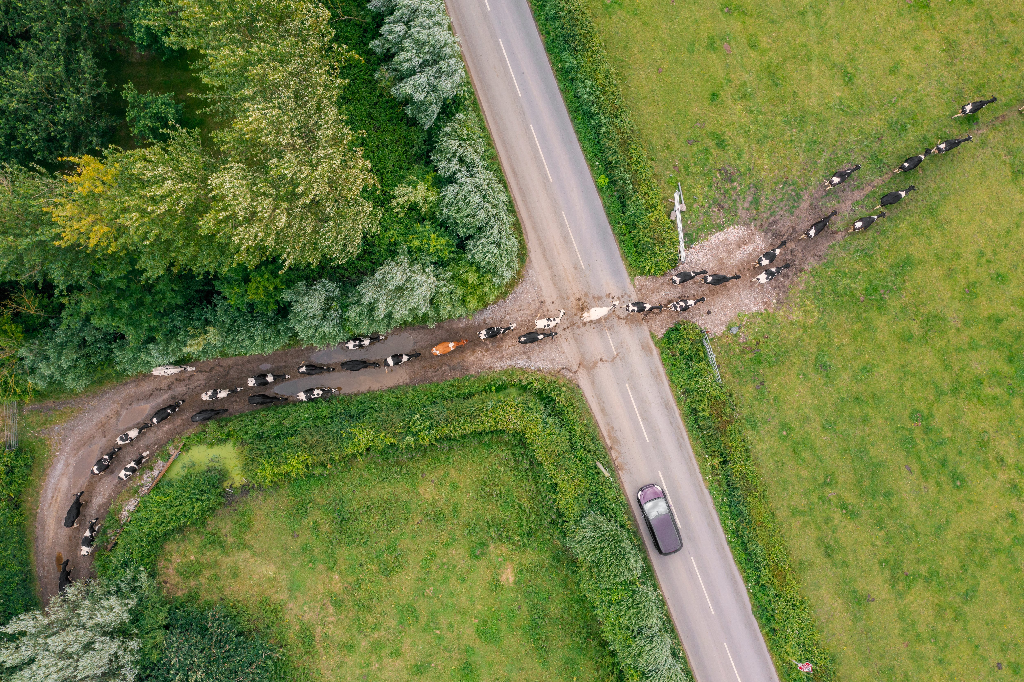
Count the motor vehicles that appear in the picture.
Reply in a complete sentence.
The photo contains exactly 1 motor vehicle.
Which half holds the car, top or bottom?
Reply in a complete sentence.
The bottom half of the photo is where the car is.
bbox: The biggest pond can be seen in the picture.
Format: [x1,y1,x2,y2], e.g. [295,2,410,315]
[156,440,251,494]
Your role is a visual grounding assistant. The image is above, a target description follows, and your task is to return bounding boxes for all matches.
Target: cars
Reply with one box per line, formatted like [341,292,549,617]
[638,483,685,558]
